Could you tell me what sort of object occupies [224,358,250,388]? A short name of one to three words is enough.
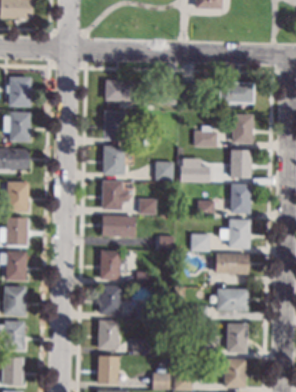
house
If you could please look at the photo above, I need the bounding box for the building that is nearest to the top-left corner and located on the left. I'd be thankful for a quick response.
[0,0,34,19]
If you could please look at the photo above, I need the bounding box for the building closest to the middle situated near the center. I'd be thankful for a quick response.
[138,198,158,216]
